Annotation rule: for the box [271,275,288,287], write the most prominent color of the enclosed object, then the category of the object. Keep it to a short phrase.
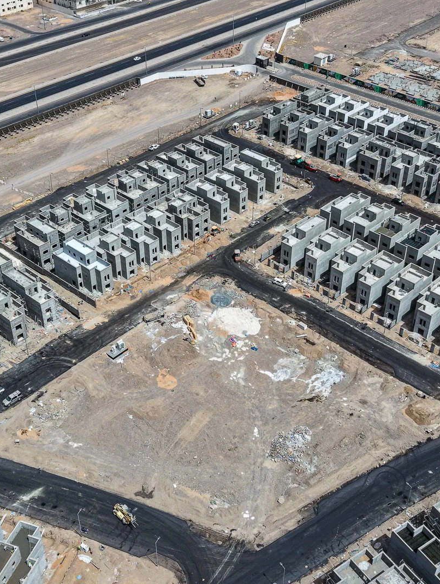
white vehicle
